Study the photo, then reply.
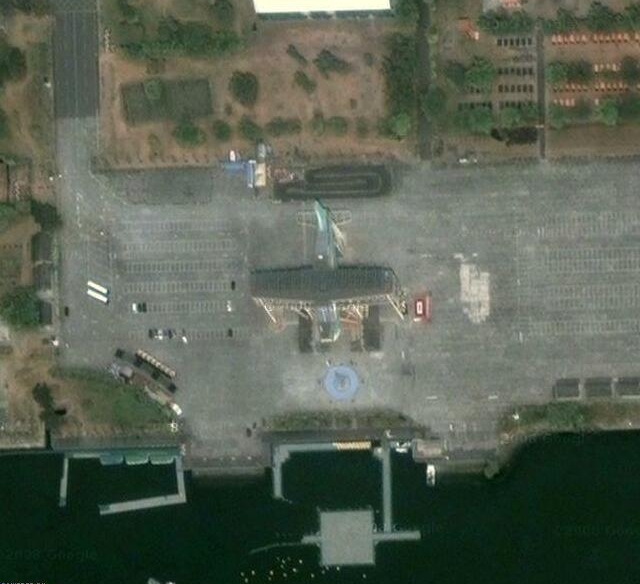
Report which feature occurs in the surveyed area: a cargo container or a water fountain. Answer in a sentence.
It is a water fountain that can be seen here.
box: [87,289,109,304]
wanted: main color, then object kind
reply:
white vehicle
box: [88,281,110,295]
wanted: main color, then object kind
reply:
white vehicle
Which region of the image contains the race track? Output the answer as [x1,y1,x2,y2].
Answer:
[274,164,392,198]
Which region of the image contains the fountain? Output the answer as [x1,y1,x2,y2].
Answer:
[322,364,359,400]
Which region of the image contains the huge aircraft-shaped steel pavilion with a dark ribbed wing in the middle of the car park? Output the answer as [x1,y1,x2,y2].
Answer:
[251,202,406,352]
